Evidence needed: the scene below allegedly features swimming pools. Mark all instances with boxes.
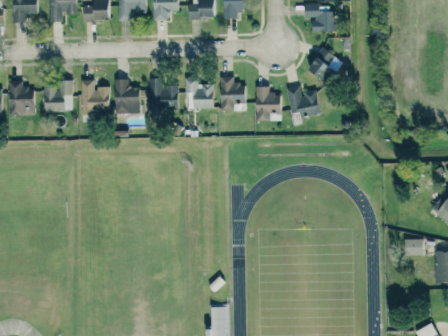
[128,118,145,128]
[56,116,67,128]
